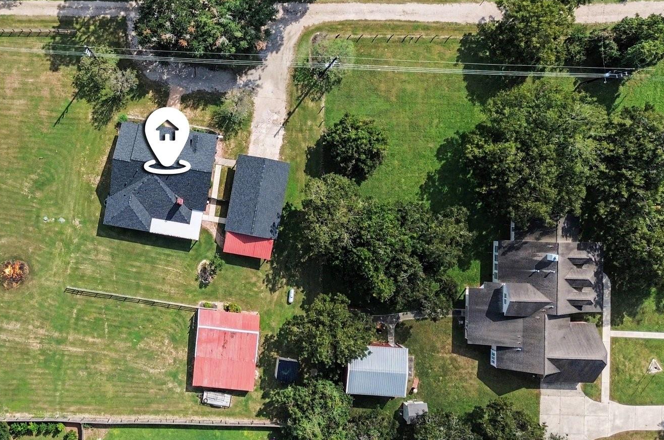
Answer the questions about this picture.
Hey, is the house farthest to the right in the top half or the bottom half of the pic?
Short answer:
bottom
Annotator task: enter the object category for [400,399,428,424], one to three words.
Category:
shed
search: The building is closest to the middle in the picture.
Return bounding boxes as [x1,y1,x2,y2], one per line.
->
[223,155,289,260]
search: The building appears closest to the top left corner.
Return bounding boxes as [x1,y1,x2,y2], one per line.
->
[102,122,223,240]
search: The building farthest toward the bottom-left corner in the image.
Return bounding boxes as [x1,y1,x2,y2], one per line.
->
[193,308,260,391]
